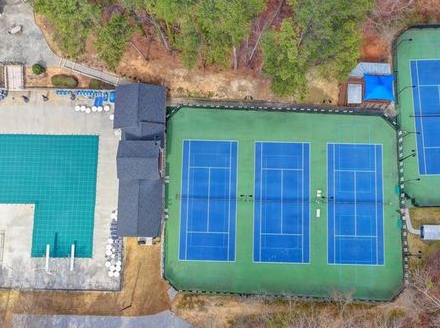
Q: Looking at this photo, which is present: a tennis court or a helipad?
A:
tennis court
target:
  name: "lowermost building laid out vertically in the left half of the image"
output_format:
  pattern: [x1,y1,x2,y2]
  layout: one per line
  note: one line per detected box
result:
[114,82,166,236]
